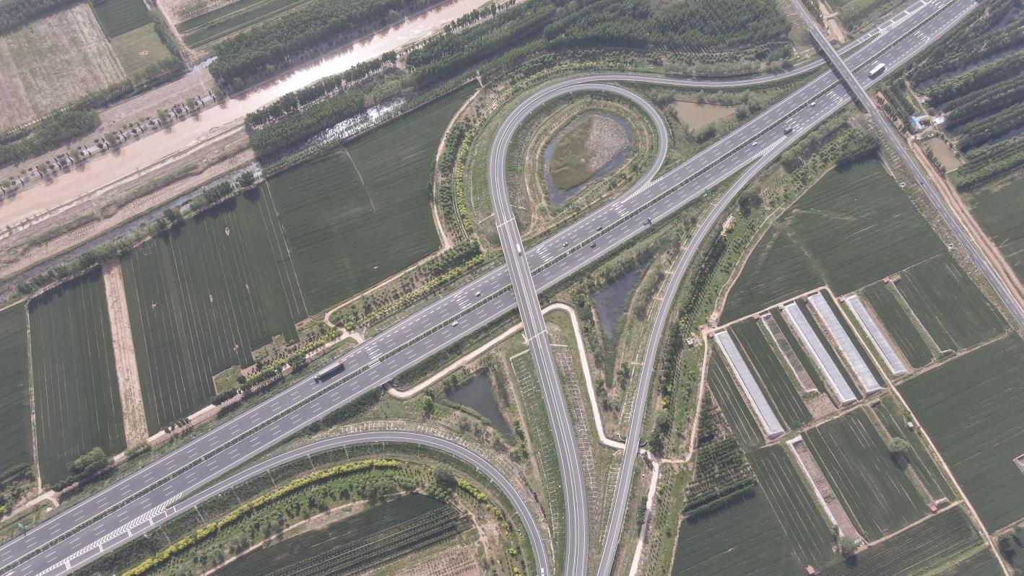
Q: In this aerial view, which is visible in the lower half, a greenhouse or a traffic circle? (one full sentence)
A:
The feature located in the lower half is a greenhouse.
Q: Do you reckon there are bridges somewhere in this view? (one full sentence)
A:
Yes, there's a bridge down there.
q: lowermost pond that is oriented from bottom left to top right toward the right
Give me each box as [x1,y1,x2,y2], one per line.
[592,261,645,339]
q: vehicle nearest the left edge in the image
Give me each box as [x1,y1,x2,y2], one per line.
[316,365,340,381]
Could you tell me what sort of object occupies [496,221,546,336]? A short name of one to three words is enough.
overpass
